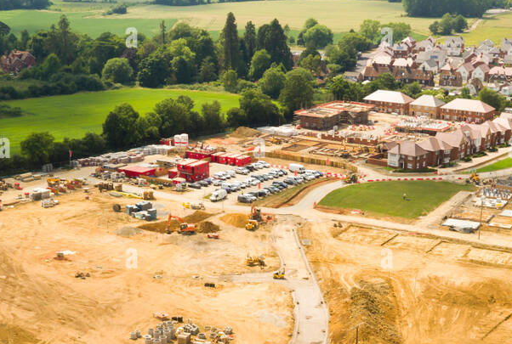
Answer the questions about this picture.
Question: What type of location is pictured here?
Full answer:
It's a residential area.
